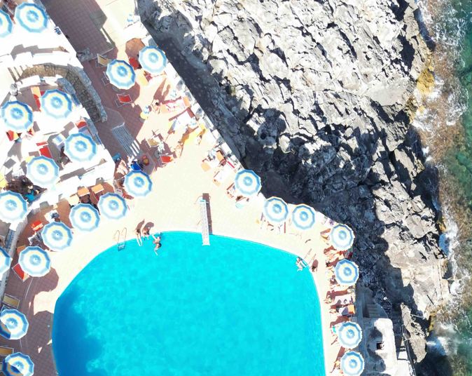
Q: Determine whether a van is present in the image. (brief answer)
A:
No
